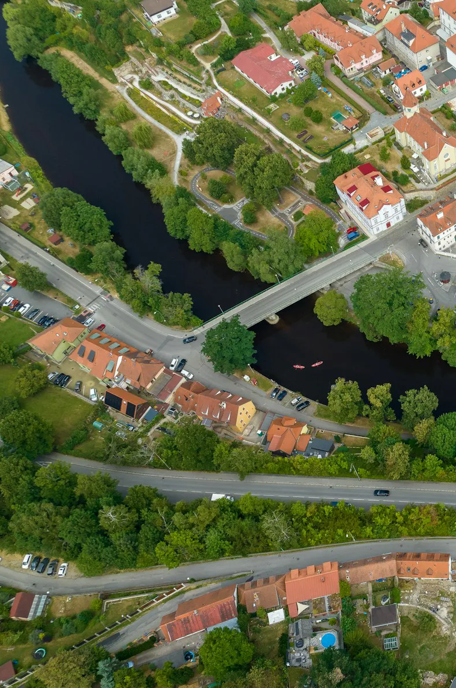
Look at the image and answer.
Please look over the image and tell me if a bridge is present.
Yes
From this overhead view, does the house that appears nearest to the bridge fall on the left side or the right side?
right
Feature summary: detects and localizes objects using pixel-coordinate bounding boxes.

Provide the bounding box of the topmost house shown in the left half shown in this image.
[138,0,177,24]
